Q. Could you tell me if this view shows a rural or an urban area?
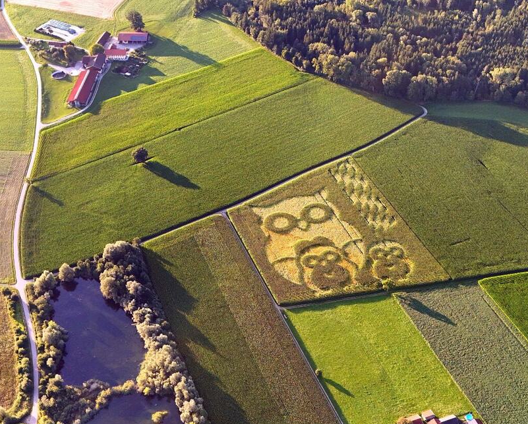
rural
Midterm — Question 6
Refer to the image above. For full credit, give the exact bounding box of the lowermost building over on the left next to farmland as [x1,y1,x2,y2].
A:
[66,70,100,107]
